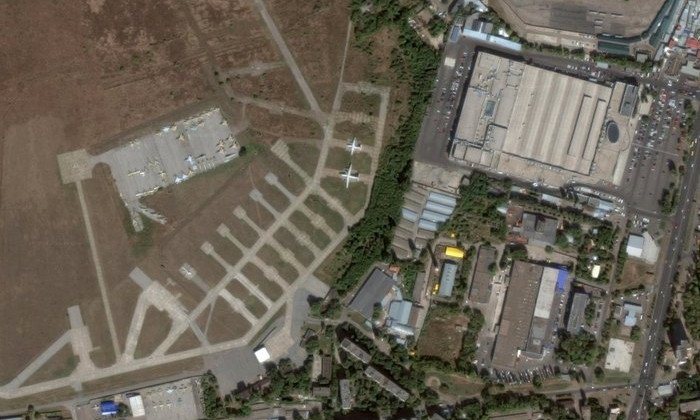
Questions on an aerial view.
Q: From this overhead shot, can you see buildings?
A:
Yes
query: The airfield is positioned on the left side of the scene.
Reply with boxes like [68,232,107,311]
[0,0,392,420]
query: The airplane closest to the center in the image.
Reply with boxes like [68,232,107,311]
[339,165,358,187]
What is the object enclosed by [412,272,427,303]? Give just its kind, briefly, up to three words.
shed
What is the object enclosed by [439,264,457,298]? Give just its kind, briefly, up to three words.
building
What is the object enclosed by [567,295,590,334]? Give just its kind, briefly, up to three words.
building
